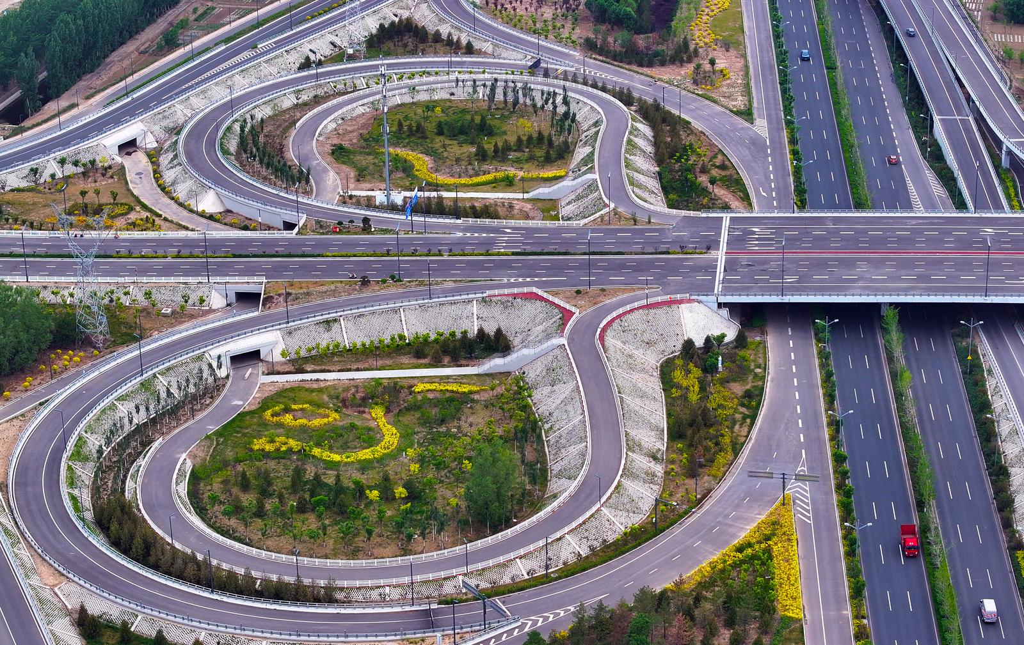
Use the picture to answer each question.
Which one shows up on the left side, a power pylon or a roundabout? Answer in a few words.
power pylon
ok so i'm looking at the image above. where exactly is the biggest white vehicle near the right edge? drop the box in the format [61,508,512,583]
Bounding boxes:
[981,601,997,622]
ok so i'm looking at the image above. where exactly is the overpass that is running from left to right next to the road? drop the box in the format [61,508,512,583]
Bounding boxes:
[718,216,1024,325]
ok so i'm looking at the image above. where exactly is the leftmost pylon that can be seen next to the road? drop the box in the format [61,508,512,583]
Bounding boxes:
[43,196,113,348]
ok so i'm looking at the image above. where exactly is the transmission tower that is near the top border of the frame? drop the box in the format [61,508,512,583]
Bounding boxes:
[342,0,369,60]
